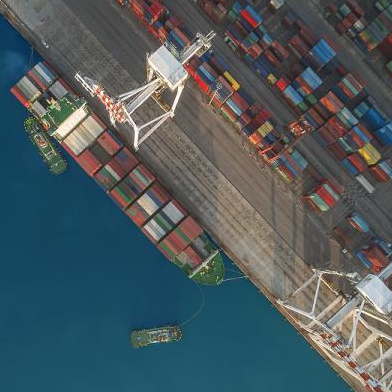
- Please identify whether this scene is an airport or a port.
port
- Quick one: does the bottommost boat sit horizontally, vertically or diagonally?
horizontally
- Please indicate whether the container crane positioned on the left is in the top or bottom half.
top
